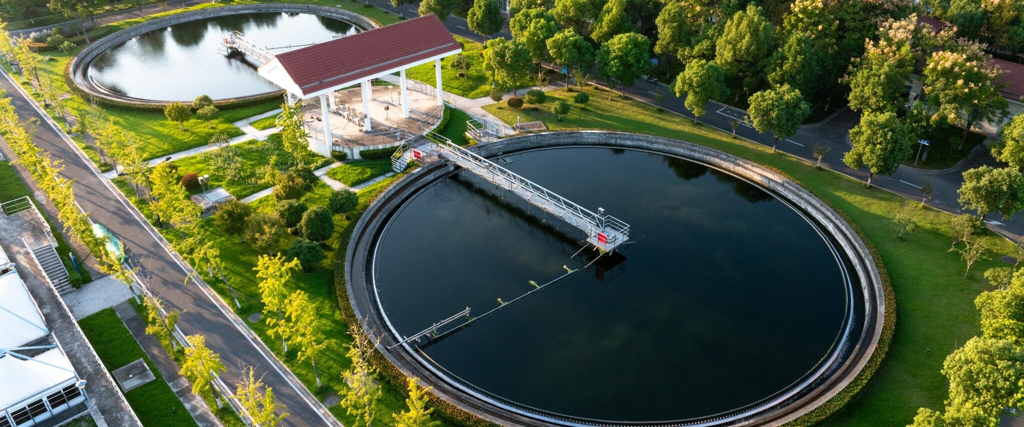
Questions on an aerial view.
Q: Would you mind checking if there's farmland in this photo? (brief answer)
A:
No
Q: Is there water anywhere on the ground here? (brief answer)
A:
Yes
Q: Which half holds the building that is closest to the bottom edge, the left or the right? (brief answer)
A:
left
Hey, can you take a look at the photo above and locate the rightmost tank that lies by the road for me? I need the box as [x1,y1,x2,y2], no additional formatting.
[344,130,884,427]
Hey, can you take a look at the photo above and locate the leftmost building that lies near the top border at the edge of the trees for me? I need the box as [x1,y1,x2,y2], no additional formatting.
[255,14,462,155]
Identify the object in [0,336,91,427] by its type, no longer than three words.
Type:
building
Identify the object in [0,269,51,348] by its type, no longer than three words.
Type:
building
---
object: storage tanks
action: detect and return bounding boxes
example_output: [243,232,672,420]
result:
[344,130,884,427]
[70,3,383,105]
